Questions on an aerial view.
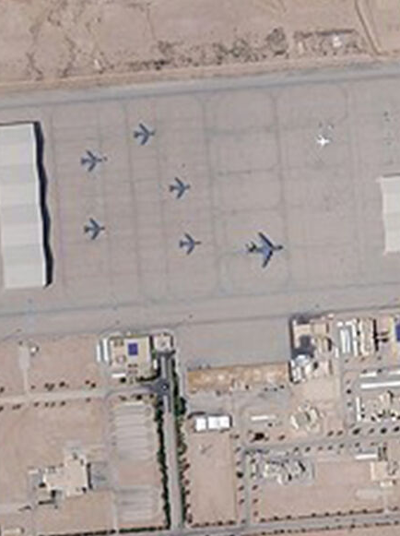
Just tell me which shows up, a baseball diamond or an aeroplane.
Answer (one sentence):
The image shows an aeroplane.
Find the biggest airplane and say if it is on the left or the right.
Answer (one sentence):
It is on the right.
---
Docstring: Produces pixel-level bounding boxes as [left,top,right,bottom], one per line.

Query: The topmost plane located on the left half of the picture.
[133,124,154,145]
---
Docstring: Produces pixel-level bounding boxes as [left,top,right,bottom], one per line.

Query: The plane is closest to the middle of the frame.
[180,233,201,255]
